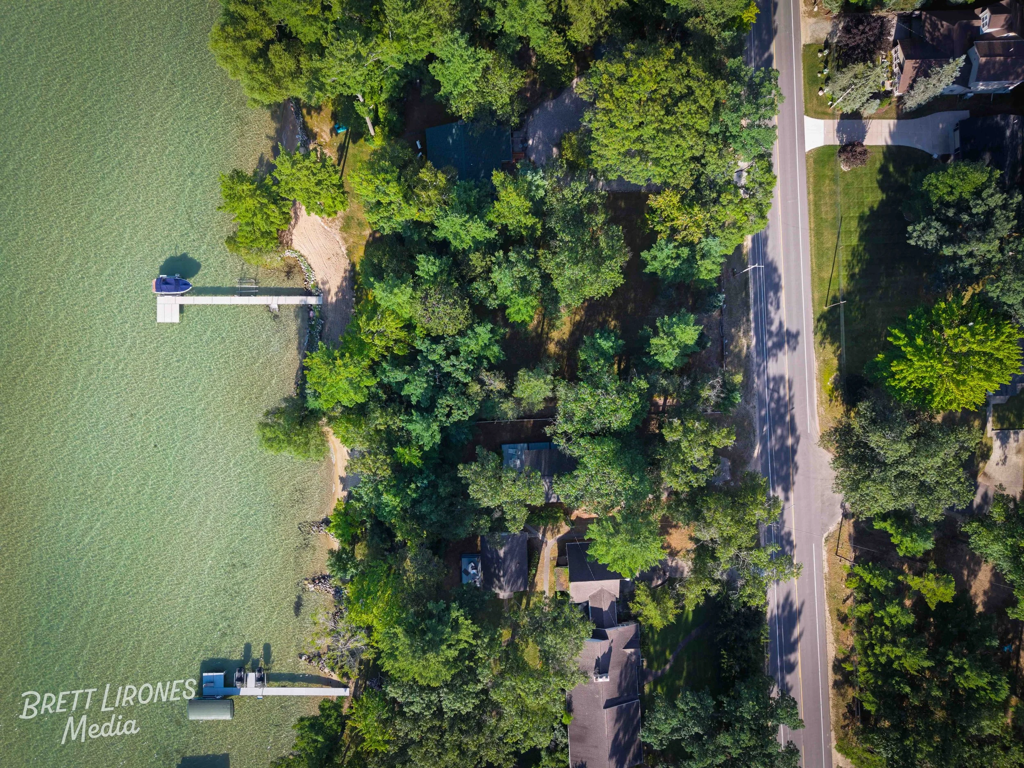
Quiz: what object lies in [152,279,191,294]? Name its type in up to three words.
boat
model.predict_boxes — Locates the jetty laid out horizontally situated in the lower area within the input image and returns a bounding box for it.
[201,672,349,698]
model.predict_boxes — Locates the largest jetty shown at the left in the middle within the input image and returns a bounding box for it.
[155,295,322,323]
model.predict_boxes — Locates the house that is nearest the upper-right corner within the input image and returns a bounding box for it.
[892,8,1024,96]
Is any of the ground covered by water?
Yes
